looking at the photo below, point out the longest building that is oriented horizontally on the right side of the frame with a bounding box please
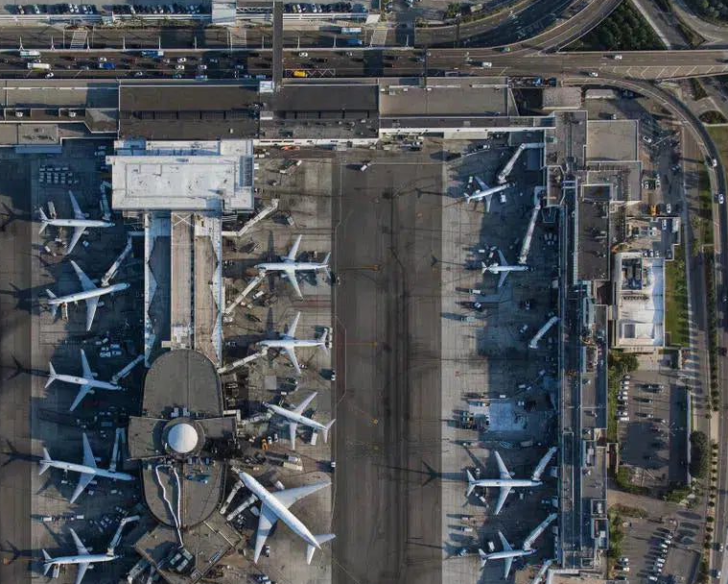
[380,78,544,147]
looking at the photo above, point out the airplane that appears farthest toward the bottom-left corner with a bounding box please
[43,529,119,584]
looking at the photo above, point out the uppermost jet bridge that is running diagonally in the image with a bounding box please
[494,142,542,190]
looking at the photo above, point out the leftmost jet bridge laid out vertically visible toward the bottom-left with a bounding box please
[108,426,128,478]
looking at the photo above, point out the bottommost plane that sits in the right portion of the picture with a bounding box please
[480,529,536,581]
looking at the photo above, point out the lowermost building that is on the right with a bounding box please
[610,251,665,352]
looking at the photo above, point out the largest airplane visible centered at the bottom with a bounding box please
[239,473,337,565]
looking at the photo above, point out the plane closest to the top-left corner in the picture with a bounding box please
[40,191,115,254]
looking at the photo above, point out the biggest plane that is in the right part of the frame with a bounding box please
[468,451,543,515]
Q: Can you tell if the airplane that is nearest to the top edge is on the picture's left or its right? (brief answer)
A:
right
